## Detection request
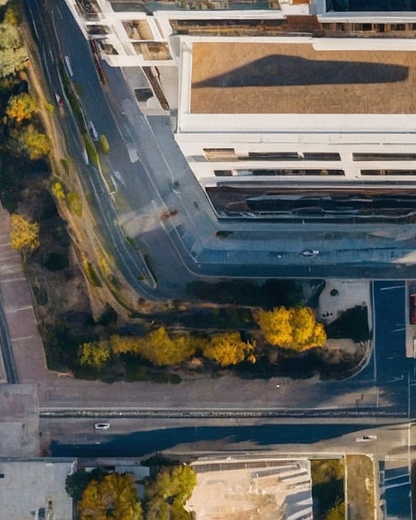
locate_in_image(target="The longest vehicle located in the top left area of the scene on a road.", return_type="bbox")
[89,48,104,74]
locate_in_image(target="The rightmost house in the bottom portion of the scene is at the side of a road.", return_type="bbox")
[185,458,312,520]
